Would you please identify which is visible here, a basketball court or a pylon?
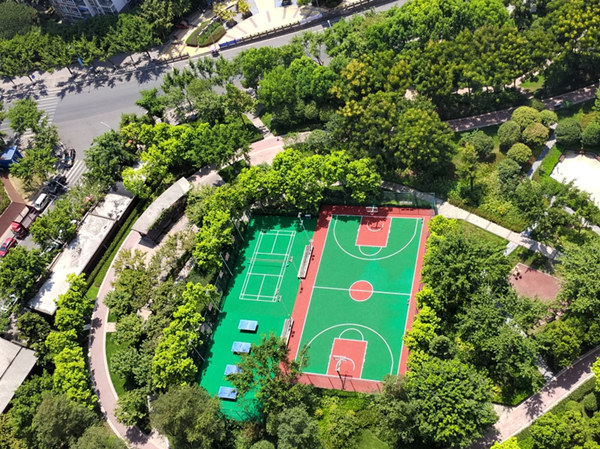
basketball court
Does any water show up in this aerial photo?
No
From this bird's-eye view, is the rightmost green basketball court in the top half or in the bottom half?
bottom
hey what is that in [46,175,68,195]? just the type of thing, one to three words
car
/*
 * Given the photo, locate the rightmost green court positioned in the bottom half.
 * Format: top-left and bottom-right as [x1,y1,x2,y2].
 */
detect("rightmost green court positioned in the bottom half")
[289,205,435,395]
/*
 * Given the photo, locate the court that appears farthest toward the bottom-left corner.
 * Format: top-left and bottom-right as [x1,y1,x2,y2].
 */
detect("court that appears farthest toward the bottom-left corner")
[239,230,295,302]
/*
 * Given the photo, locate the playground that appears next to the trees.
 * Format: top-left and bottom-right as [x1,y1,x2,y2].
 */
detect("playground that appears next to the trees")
[549,151,600,207]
